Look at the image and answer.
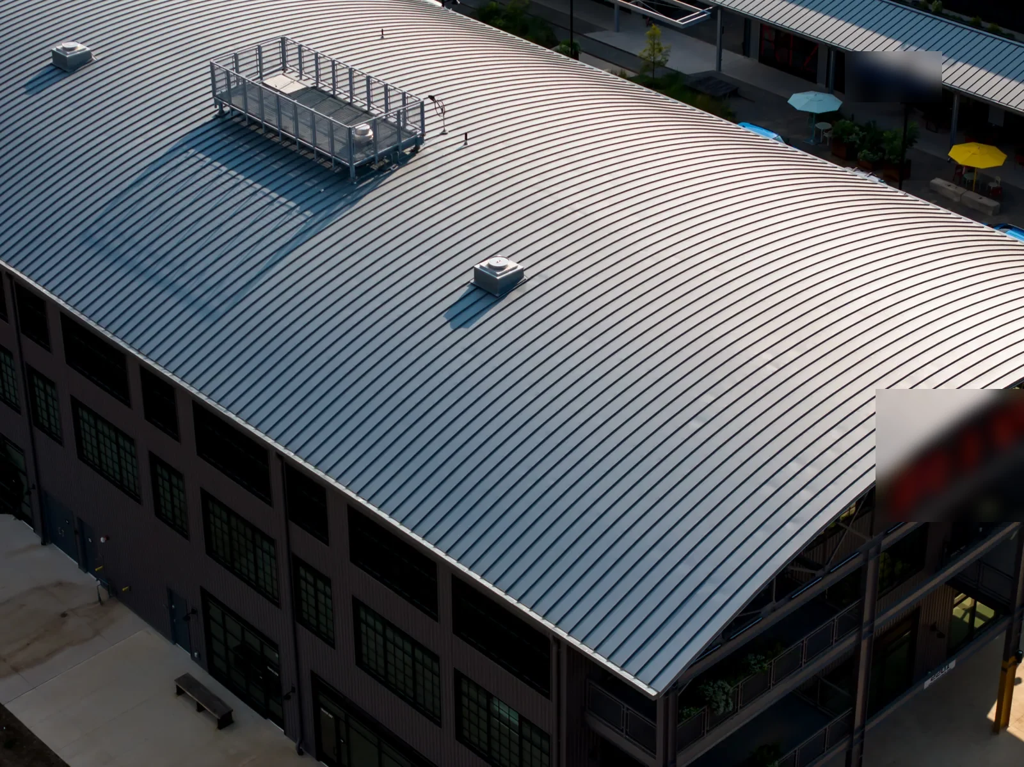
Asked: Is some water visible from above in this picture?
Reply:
No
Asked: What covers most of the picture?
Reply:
buildings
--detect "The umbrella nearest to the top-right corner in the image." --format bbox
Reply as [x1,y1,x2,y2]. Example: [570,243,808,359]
[949,145,1007,196]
